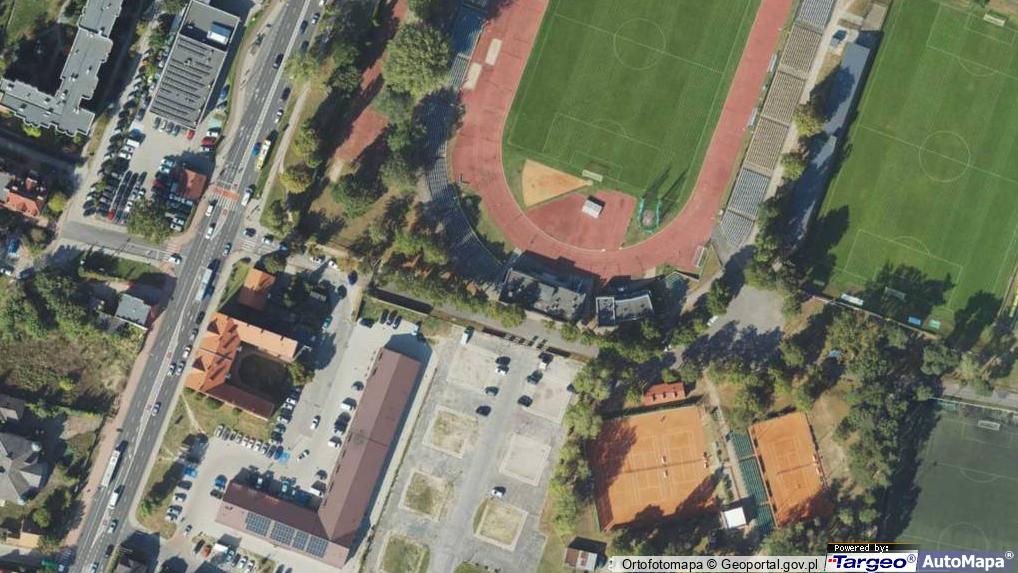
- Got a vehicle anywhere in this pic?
Yes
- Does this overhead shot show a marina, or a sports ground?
sports ground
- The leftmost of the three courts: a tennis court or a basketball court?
tennis court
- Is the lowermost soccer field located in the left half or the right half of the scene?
right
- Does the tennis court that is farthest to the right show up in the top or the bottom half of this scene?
bottom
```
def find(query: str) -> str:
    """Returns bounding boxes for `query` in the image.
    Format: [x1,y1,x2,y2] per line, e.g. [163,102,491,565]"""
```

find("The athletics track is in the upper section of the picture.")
[451,0,792,284]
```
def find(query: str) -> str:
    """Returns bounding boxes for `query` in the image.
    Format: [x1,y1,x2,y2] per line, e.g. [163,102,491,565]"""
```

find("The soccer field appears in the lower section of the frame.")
[865,403,1018,573]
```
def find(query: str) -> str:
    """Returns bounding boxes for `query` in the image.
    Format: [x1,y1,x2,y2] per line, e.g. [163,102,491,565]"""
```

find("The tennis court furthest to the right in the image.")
[749,412,834,527]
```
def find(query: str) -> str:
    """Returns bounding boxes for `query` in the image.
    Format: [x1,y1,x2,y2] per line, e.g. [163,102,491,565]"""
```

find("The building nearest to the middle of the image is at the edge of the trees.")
[500,269,586,323]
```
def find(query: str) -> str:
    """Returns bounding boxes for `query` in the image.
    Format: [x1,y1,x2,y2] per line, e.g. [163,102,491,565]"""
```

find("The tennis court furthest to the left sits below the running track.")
[593,415,667,531]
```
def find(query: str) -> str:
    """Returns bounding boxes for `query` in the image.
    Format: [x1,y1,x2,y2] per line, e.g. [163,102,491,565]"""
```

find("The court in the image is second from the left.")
[648,406,720,518]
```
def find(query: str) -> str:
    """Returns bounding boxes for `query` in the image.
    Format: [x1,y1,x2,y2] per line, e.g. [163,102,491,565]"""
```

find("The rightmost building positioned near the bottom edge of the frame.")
[564,549,597,572]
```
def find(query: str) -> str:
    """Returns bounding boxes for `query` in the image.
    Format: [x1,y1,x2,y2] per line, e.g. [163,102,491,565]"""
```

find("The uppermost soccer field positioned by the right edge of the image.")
[806,0,1018,330]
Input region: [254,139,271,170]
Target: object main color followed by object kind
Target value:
white vehicle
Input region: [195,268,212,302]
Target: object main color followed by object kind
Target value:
white vehicle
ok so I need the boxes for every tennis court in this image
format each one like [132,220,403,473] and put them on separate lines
[593,415,667,531]
[648,406,720,518]
[749,412,834,527]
